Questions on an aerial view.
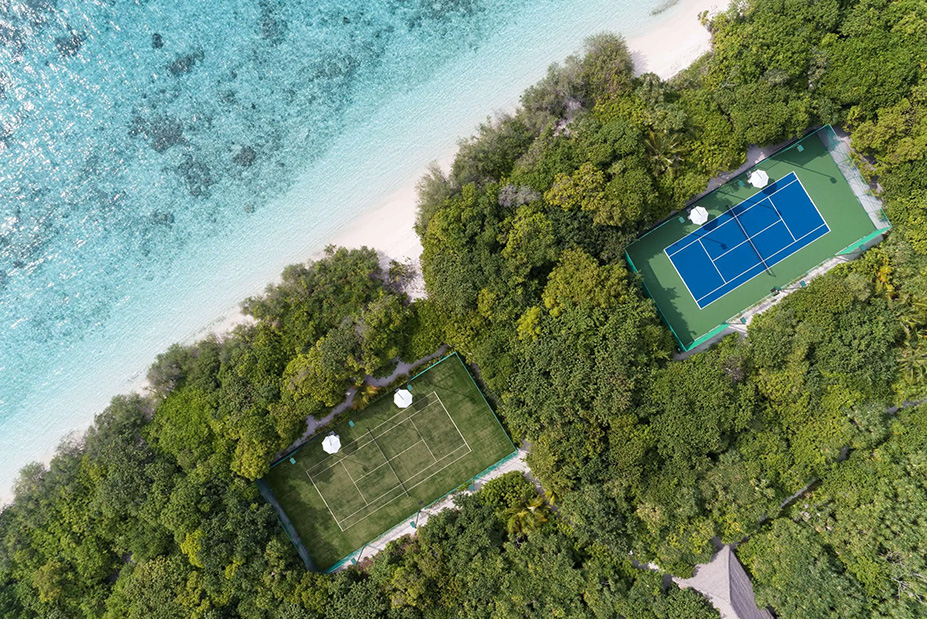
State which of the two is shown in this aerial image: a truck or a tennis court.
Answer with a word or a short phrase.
tennis court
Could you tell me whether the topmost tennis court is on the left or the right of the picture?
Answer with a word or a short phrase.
right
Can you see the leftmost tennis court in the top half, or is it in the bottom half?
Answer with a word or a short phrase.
bottom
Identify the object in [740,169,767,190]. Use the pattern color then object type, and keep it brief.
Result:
white umbrella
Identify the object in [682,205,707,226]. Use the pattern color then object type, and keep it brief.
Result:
white umbrella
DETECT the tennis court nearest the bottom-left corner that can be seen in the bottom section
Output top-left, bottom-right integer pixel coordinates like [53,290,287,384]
[263,353,512,571]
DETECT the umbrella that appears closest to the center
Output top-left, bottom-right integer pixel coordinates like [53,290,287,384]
[393,385,414,407]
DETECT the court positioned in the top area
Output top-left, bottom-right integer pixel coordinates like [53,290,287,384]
[625,133,876,347]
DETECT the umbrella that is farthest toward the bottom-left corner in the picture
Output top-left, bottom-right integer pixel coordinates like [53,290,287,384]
[322,426,341,452]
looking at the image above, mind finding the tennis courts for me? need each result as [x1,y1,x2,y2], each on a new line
[263,353,512,571]
[625,133,876,347]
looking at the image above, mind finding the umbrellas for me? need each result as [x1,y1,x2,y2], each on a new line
[740,169,767,190]
[682,205,707,226]
[393,385,414,407]
[322,426,341,452]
